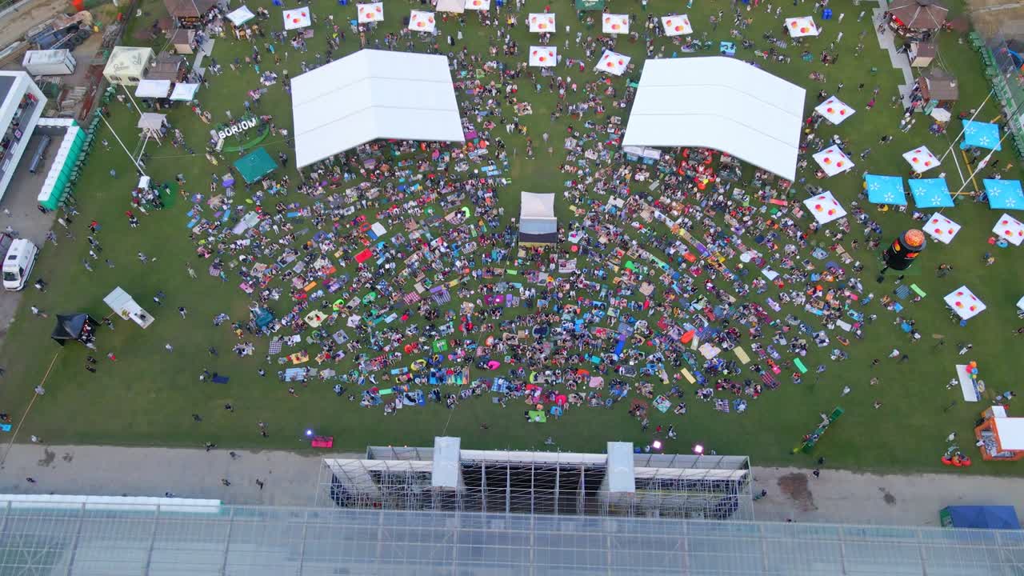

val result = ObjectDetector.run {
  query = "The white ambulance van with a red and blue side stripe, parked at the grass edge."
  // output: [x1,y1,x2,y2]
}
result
[3,234,44,290]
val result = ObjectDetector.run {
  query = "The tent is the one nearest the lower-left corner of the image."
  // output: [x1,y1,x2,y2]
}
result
[51,313,100,345]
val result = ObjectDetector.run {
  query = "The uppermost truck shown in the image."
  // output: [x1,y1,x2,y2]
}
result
[26,10,98,51]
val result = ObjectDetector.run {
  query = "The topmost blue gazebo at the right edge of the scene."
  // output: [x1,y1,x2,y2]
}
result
[951,119,1003,163]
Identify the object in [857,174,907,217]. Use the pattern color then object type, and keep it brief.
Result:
blue gazebo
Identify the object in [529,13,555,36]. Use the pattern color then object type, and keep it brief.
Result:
white gazebo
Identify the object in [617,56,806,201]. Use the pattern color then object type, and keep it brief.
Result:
white tent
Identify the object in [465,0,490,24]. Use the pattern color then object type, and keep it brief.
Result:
white gazebo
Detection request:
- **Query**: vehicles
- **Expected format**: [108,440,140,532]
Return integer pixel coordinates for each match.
[3,234,44,290]
[26,10,98,51]
[0,238,15,275]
